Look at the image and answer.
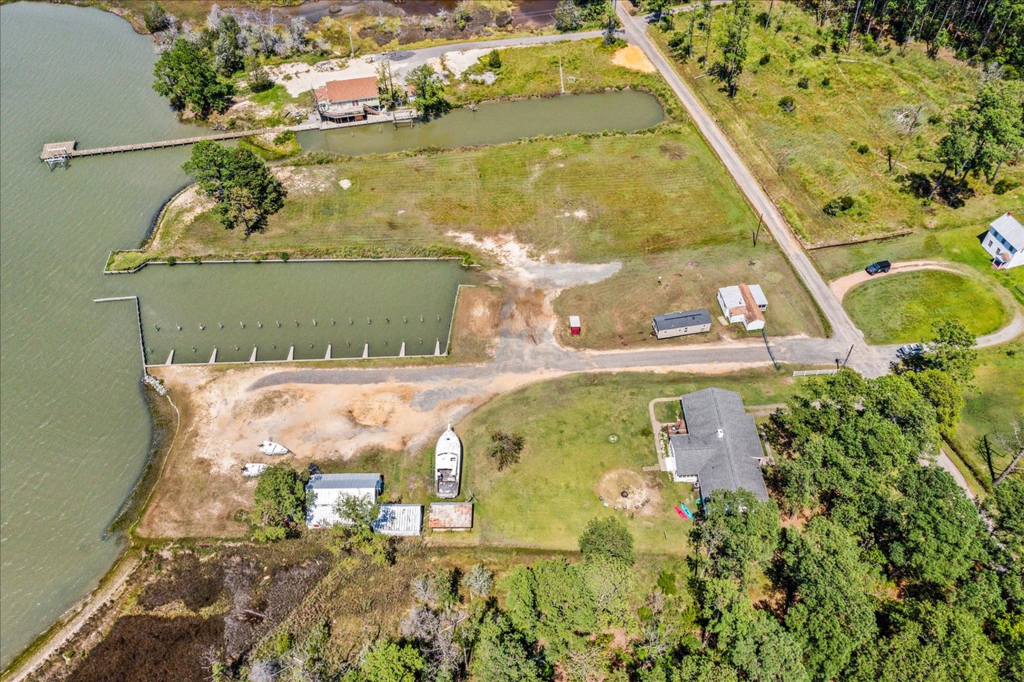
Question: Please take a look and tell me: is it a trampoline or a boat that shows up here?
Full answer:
The image shows a boat.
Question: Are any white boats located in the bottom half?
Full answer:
Yes, a white boat appears in the bottom half.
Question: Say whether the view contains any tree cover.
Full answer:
Yes, tree cover shows up in the scene.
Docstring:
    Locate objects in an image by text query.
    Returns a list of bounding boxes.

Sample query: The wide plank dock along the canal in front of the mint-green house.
[298,110,419,134]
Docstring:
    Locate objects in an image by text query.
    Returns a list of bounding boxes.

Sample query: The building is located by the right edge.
[982,210,1024,286]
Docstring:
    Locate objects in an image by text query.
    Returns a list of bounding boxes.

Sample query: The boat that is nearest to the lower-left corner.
[238,464,277,479]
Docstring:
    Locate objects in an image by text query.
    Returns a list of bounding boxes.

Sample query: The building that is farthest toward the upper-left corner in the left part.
[313,76,380,126]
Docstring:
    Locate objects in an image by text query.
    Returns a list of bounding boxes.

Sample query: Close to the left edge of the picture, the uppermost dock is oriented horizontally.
[39,130,291,164]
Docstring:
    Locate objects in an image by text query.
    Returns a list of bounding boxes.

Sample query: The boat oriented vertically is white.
[434,421,461,497]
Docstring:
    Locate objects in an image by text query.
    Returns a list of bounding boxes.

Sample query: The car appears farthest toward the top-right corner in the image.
[865,260,891,274]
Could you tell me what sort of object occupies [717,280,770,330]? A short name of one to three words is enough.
house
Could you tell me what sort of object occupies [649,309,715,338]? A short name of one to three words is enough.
house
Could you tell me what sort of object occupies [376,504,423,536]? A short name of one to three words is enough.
shed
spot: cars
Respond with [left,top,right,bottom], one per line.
[899,340,928,355]
[865,260,891,274]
